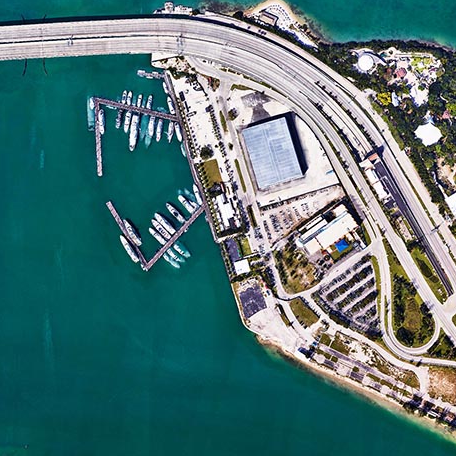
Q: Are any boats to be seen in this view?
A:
Yes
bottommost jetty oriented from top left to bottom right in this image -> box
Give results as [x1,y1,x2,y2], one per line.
[105,201,147,267]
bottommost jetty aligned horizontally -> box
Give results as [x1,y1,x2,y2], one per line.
[94,98,177,122]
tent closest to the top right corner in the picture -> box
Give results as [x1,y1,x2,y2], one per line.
[415,122,442,146]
